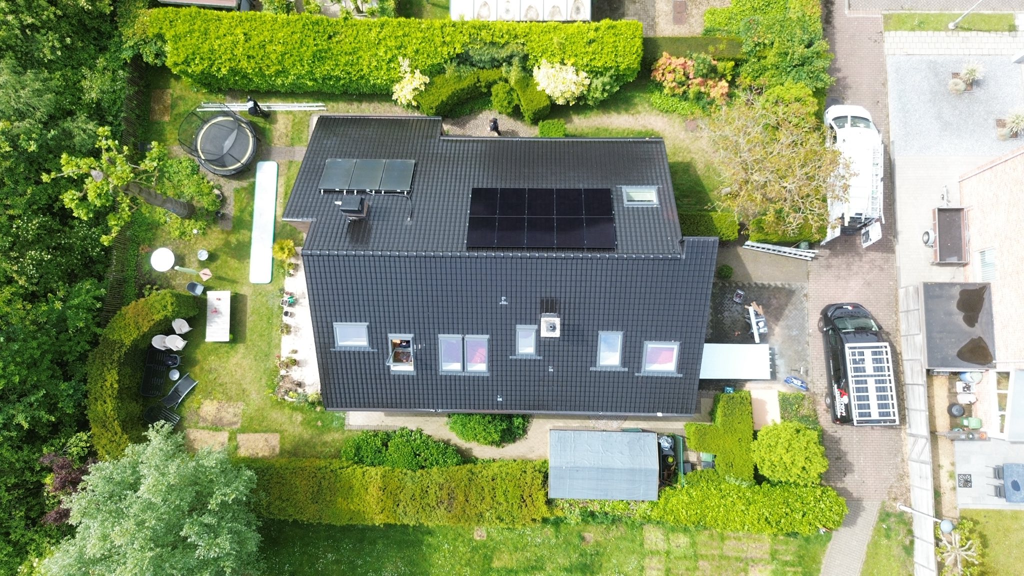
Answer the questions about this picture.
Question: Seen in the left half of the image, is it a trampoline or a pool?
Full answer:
The feature located in the left half of the image is a trampoline.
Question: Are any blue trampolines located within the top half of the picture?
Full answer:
No, within the top half of the picture there is no blue trampoline.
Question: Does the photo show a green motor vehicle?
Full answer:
No, I can't see a single green motor vehicle in this photo.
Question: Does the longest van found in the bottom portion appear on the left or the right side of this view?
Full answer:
It is on the right.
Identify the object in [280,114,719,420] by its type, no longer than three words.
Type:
house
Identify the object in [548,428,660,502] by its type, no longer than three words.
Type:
shed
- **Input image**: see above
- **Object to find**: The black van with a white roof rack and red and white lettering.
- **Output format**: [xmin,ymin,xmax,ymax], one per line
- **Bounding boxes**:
[820,305,895,434]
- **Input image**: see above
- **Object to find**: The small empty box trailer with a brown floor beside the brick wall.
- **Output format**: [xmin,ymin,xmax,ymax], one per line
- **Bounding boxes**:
[929,185,980,257]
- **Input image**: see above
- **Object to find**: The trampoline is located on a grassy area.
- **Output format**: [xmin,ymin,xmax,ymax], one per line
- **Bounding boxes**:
[179,103,263,179]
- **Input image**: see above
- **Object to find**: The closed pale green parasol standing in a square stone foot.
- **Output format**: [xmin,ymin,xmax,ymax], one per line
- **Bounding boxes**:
[177,265,212,281]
